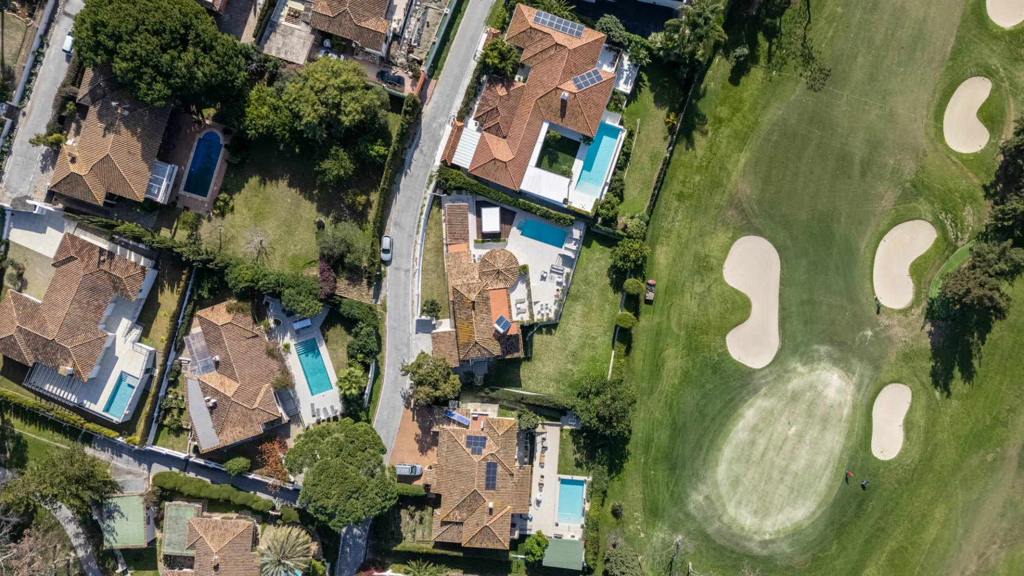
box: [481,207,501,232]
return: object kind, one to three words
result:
building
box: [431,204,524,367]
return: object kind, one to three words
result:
house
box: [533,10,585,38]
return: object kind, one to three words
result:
solar panel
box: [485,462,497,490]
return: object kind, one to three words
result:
solar panel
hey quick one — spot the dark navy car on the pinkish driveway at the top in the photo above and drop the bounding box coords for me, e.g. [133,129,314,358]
[377,72,405,88]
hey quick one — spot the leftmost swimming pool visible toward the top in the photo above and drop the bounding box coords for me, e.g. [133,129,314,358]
[179,128,225,201]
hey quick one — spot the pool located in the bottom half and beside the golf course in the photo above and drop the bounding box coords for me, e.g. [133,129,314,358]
[555,476,587,527]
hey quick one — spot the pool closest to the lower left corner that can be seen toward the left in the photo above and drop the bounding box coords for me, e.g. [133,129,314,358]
[101,369,143,420]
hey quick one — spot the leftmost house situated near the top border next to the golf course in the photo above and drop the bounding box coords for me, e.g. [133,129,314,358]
[467,2,616,190]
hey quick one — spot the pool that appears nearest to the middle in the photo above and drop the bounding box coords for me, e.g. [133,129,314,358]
[515,218,570,250]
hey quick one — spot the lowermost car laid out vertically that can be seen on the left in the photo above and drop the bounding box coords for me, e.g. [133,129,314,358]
[381,236,393,262]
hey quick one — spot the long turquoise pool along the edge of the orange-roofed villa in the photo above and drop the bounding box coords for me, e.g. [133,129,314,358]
[573,120,622,199]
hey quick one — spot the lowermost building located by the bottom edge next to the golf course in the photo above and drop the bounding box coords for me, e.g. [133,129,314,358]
[543,536,586,570]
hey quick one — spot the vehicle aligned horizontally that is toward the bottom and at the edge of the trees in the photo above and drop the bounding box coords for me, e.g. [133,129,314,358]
[396,462,423,475]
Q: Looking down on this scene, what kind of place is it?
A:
golf course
